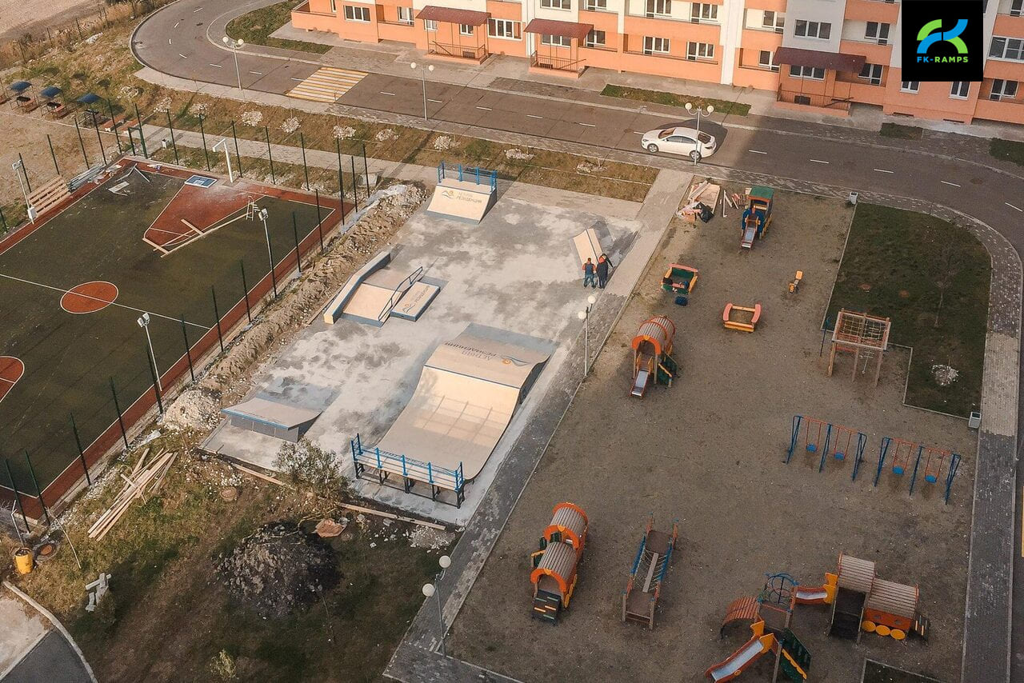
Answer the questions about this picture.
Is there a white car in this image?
Yes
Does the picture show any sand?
Yes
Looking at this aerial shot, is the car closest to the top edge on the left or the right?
right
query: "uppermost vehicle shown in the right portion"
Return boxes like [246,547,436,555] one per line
[639,127,716,161]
